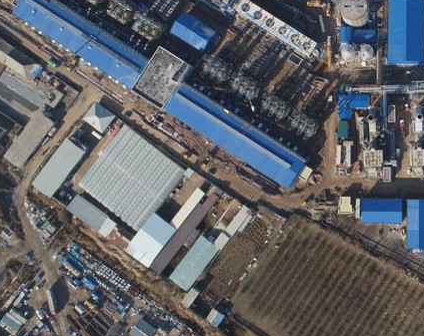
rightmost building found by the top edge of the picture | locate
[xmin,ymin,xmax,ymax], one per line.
[388,0,424,67]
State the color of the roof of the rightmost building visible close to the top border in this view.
blue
